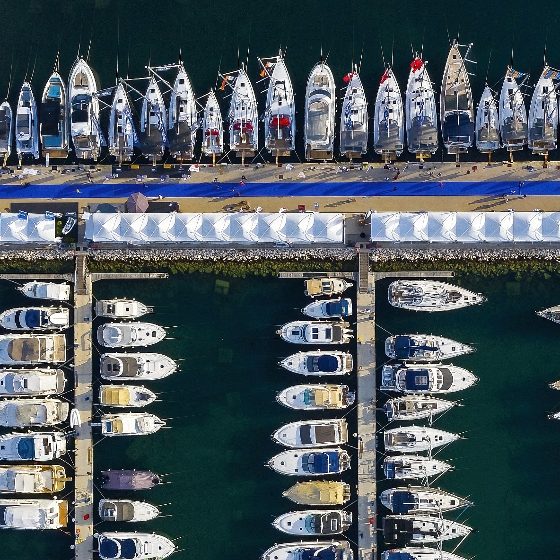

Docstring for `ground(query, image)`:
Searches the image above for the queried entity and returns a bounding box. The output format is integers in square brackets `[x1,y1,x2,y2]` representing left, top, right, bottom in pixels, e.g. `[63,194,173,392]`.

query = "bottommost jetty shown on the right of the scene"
[277,271,454,560]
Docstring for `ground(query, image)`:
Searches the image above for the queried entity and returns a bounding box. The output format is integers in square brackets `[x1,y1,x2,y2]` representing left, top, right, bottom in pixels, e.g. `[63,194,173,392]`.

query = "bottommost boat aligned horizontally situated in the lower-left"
[95,530,188,560]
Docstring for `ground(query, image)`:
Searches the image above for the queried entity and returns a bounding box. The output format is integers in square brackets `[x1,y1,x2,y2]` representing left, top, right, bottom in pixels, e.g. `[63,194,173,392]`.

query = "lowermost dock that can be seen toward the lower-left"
[0,272,169,560]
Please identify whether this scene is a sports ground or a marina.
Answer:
marina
